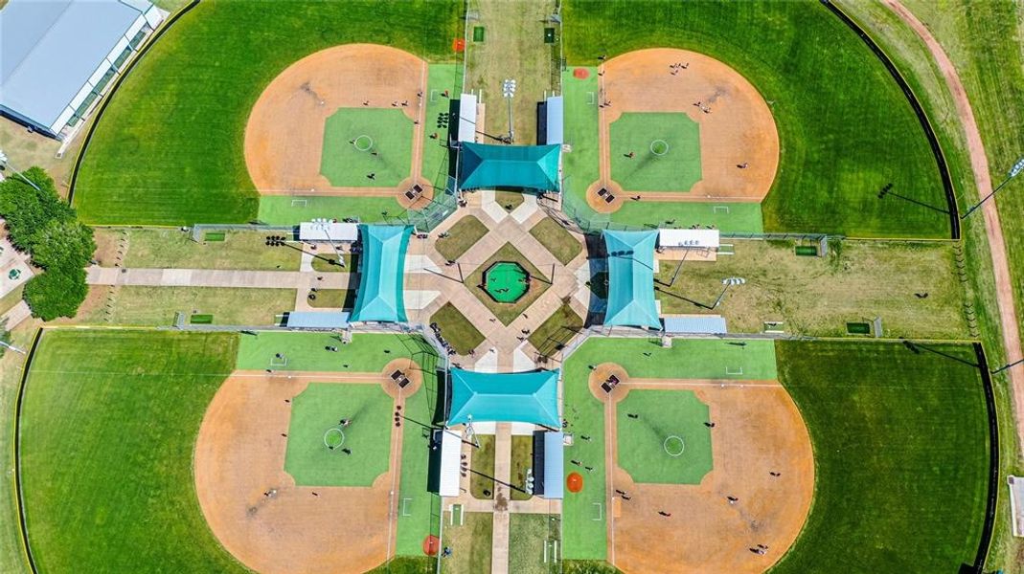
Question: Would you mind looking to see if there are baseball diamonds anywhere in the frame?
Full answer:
Yes, this view includes a baseball diamond.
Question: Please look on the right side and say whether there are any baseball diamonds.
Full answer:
Yes, a baseball diamond is visible on the right side.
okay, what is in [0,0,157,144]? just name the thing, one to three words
building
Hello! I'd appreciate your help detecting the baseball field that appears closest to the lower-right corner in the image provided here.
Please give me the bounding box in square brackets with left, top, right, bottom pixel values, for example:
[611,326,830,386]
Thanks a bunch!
[559,337,995,574]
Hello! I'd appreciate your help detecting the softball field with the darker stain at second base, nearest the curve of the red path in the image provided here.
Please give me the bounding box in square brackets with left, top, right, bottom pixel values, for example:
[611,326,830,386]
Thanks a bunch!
[561,0,955,239]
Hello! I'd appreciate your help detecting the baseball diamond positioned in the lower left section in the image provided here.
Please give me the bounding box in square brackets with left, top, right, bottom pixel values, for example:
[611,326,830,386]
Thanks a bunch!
[18,326,447,574]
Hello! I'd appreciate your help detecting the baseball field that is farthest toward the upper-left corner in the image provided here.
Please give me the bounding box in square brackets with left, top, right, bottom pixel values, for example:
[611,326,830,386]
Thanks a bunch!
[69,0,467,230]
